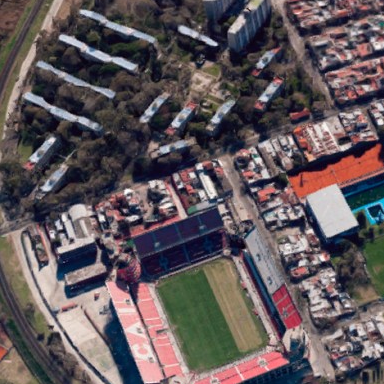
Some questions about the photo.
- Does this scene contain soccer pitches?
Yes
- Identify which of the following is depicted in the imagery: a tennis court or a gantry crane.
tennis court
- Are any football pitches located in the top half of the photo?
No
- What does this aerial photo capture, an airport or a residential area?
residential area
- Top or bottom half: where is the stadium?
bottom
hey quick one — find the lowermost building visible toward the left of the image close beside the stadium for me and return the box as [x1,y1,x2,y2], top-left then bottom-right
[65,262,108,289]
